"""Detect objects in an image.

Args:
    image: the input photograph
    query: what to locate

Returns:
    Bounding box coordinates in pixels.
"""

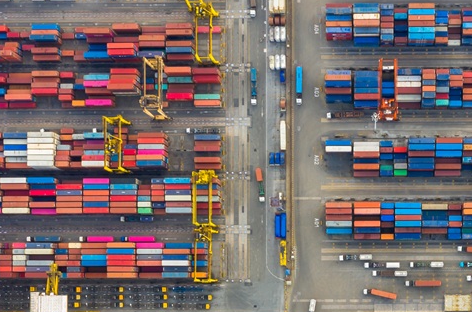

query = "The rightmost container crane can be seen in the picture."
[374,56,402,120]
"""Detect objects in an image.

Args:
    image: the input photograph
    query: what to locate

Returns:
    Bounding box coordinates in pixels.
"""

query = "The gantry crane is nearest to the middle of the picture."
[190,168,221,227]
